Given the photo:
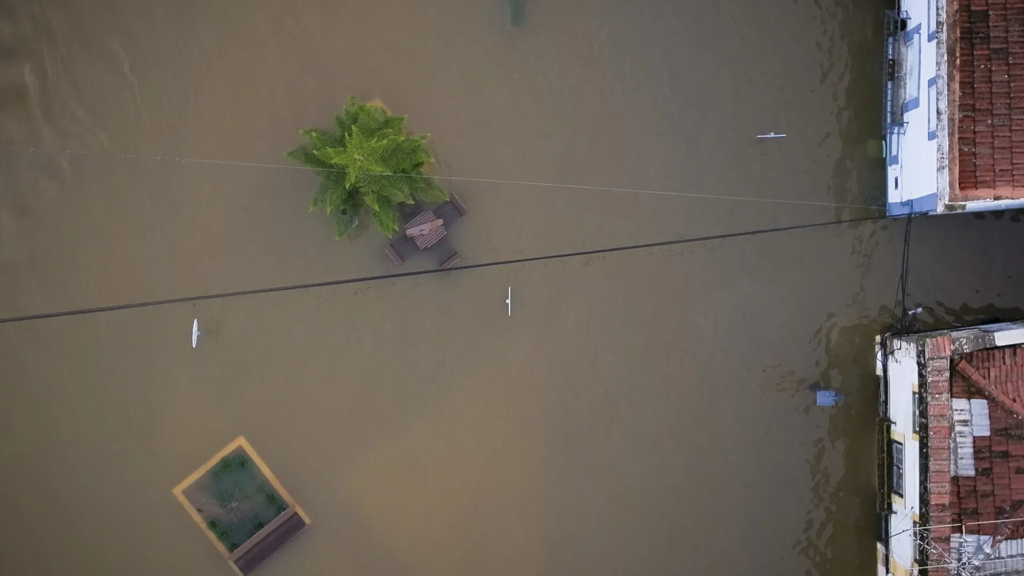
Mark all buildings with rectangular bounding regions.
[877,0,1024,219]
[867,316,1024,576]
